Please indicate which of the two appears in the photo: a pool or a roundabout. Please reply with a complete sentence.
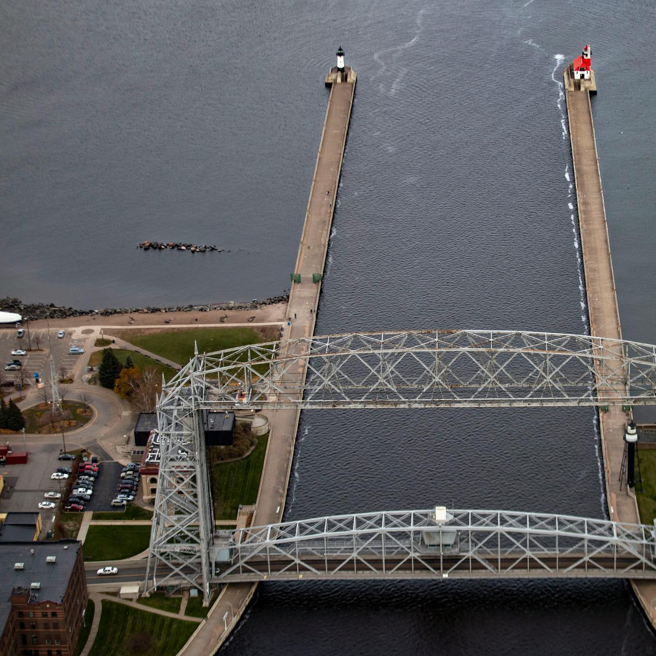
This aerial view contains a roundabout.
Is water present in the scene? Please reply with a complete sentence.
Yes, water shows up in the scene.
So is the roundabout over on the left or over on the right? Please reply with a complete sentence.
You can find the roundabout on the left side of the picture.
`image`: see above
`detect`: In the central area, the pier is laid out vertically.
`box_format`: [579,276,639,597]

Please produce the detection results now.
[177,61,358,656]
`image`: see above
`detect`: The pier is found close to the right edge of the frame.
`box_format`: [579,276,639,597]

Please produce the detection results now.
[563,62,656,639]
